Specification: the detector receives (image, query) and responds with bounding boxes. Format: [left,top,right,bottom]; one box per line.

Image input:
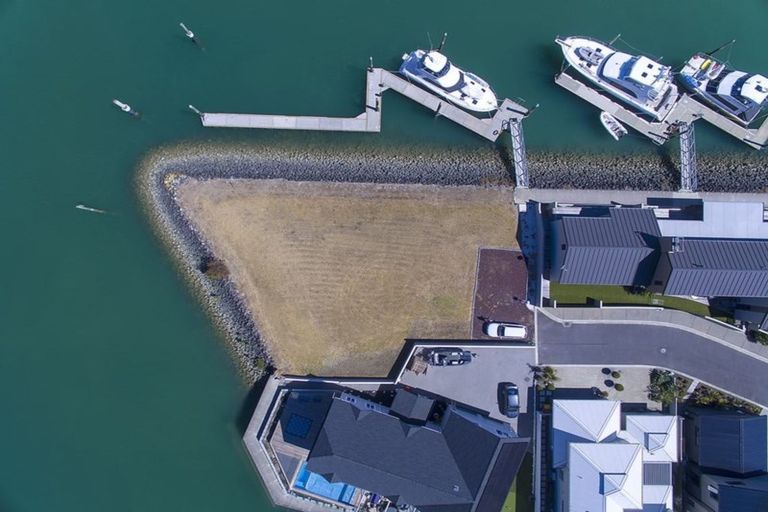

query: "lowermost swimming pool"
[290,466,371,512]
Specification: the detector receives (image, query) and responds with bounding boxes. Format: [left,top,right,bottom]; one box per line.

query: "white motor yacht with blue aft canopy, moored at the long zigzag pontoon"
[399,32,502,113]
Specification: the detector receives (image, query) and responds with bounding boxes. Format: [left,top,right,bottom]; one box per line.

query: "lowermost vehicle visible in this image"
[502,382,521,418]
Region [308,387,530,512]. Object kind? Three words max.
house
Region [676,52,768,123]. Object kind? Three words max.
boat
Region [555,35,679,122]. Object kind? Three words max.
boat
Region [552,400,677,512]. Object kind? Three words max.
house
